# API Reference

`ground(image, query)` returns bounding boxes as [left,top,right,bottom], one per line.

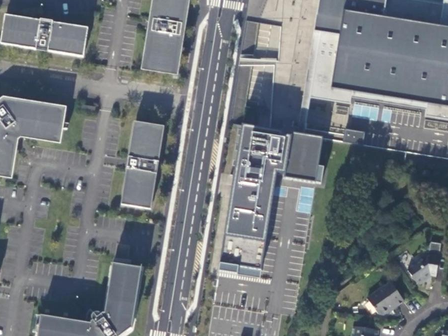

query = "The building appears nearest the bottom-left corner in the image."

[34,260,144,336]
